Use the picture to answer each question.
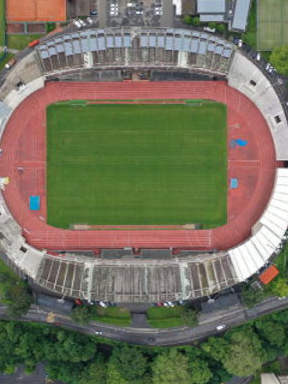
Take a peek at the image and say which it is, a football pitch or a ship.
football pitch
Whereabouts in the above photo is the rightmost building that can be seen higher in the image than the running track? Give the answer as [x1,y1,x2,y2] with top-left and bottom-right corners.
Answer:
[232,0,250,32]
